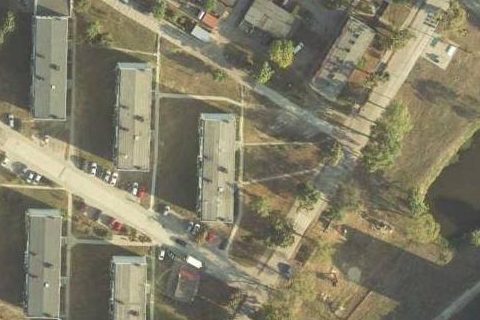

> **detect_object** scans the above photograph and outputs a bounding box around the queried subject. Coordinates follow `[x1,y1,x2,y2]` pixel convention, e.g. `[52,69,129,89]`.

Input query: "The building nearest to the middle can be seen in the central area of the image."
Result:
[200,113,238,223]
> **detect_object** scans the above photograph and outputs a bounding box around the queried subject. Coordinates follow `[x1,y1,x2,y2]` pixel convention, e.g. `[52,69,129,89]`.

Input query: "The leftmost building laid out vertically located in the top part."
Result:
[32,15,72,121]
